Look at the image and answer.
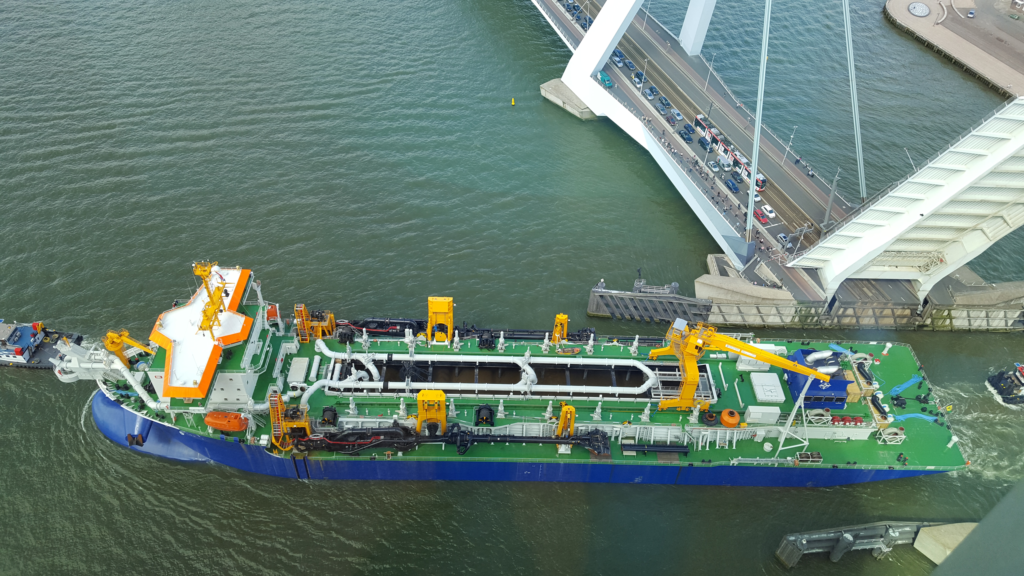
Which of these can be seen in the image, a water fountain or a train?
train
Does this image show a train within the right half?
Yes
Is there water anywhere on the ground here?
Yes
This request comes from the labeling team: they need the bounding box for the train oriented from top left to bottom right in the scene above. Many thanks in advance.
[698,116,770,192]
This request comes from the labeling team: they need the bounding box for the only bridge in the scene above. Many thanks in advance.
[519,0,860,269]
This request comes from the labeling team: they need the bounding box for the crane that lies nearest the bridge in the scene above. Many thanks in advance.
[639,307,830,417]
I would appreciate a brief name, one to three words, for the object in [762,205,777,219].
car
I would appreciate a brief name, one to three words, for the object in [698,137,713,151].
car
